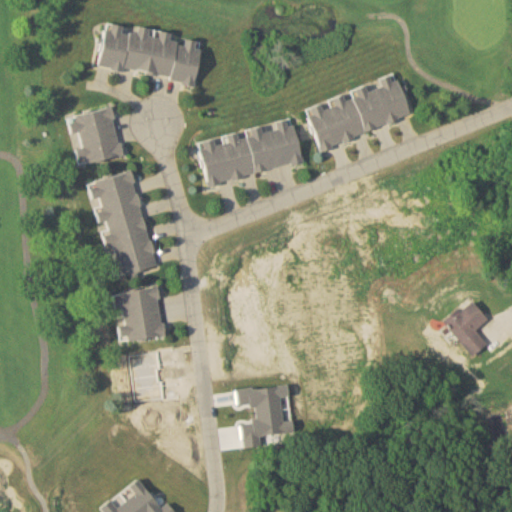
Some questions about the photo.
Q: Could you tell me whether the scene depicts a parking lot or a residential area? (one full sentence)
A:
The area seen from above is a residential area.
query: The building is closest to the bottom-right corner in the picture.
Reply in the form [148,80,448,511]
[440,296,488,357]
